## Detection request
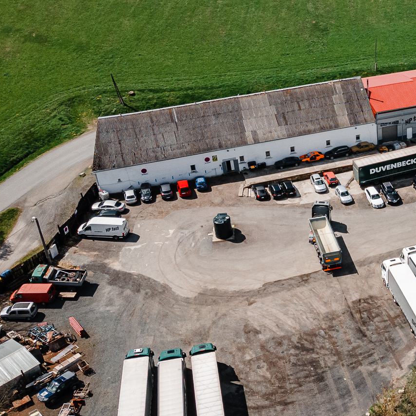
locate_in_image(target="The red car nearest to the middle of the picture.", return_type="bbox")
[175,181,191,198]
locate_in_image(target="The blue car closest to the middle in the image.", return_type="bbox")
[193,174,208,191]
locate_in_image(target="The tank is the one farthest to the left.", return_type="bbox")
[210,214,237,245]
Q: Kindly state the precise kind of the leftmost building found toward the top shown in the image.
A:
warehouse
